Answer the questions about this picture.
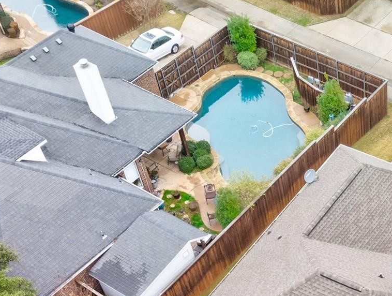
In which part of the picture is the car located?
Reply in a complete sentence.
The car is in the top part of the image.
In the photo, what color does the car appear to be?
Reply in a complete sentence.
In this view, the car is white.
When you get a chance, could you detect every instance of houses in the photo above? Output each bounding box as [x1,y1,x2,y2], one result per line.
[209,144,392,296]
[0,19,198,296]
